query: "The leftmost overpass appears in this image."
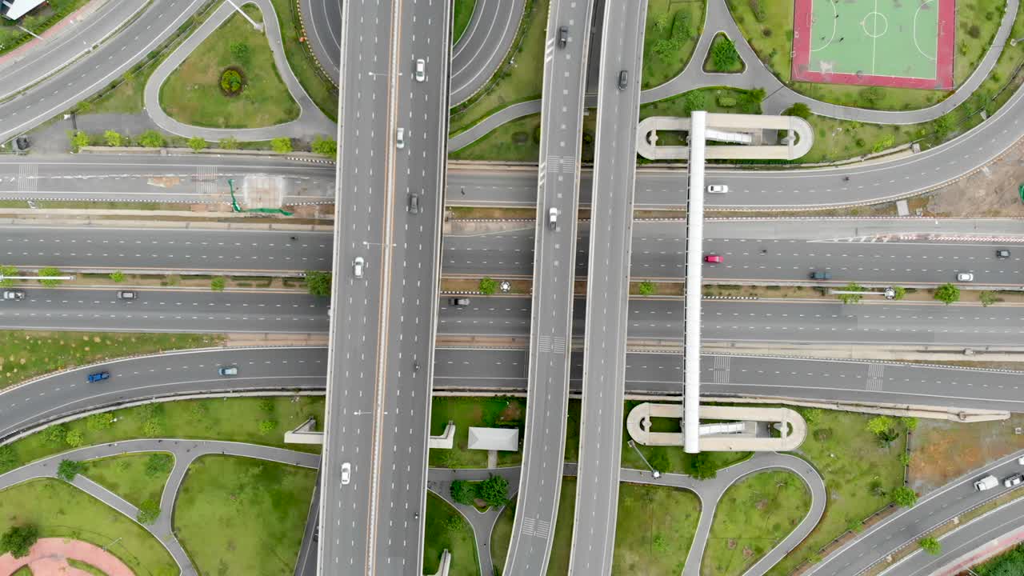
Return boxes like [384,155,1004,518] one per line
[285,0,459,576]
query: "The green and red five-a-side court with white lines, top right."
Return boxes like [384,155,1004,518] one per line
[791,0,957,90]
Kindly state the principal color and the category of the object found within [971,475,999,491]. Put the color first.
white vehicle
